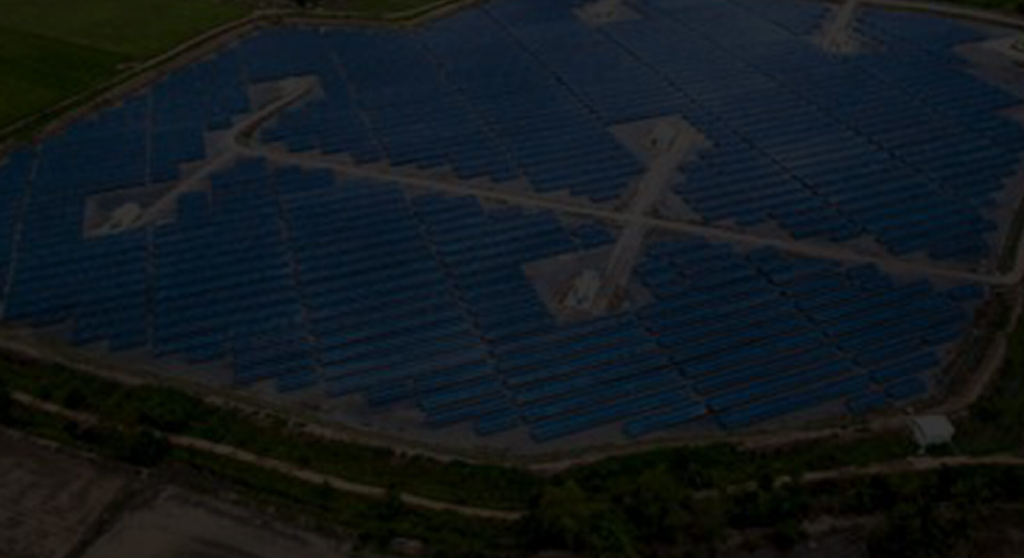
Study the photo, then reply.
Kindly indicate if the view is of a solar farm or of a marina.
solar farm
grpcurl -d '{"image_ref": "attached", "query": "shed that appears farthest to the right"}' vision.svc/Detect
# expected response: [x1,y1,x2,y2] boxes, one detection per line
[912,412,952,446]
